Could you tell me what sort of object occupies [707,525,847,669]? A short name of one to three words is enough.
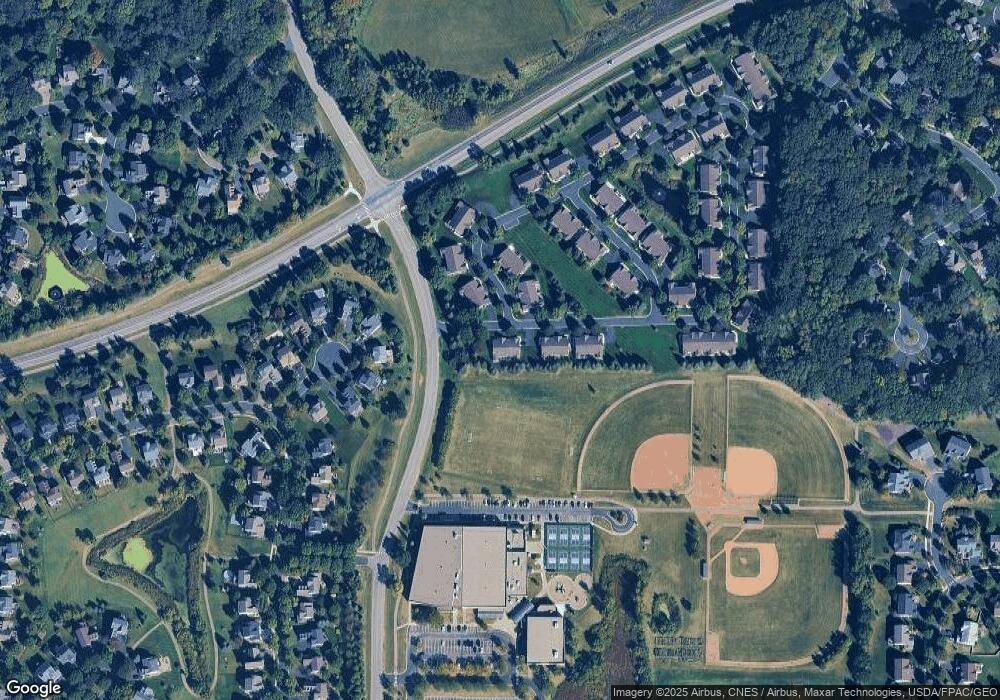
baseball field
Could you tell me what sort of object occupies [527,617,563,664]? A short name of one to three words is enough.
building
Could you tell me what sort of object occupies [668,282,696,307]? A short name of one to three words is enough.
house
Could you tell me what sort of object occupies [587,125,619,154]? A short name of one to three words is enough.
house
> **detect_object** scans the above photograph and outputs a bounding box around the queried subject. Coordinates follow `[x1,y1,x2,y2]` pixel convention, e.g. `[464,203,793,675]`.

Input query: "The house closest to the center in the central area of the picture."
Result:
[492,337,521,361]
